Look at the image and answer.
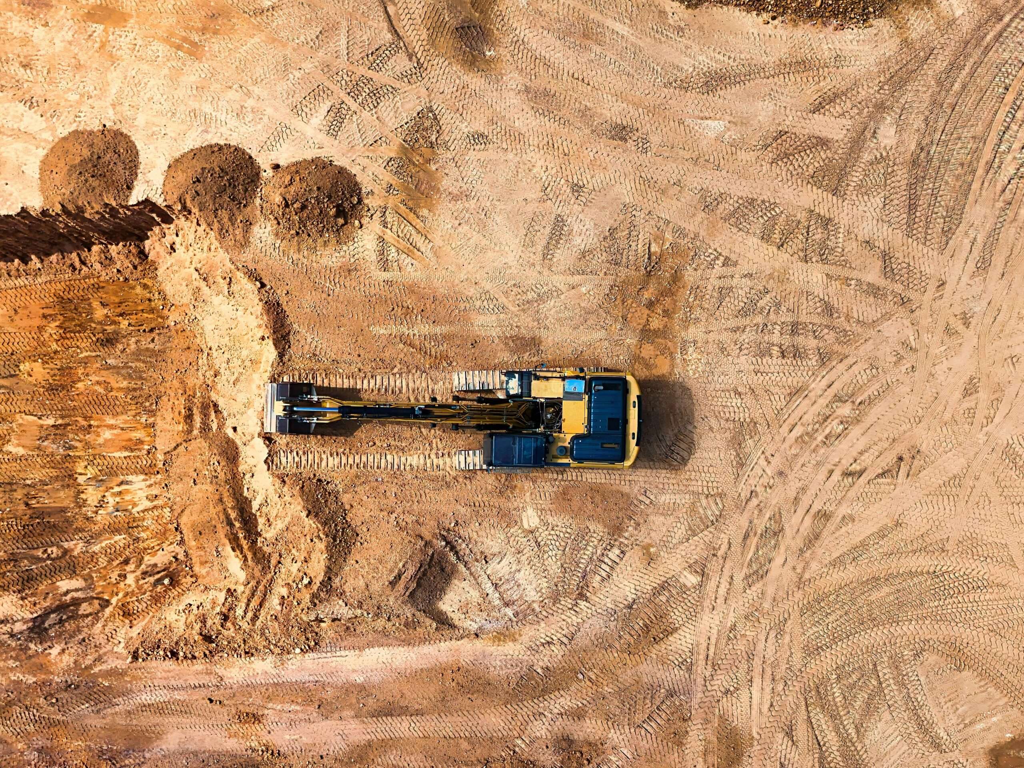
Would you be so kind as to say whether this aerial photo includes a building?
No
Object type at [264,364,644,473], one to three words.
work vehicle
